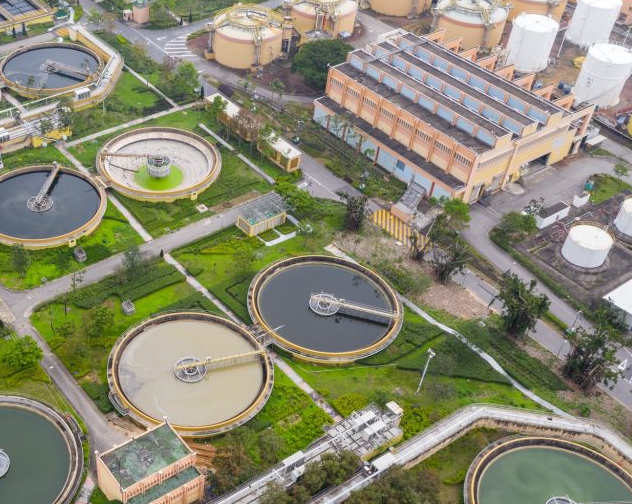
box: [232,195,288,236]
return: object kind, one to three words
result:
shed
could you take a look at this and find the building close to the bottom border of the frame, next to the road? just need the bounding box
[95,413,205,504]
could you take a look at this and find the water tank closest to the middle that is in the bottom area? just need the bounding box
[248,253,404,364]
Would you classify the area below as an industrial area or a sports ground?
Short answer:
industrial area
